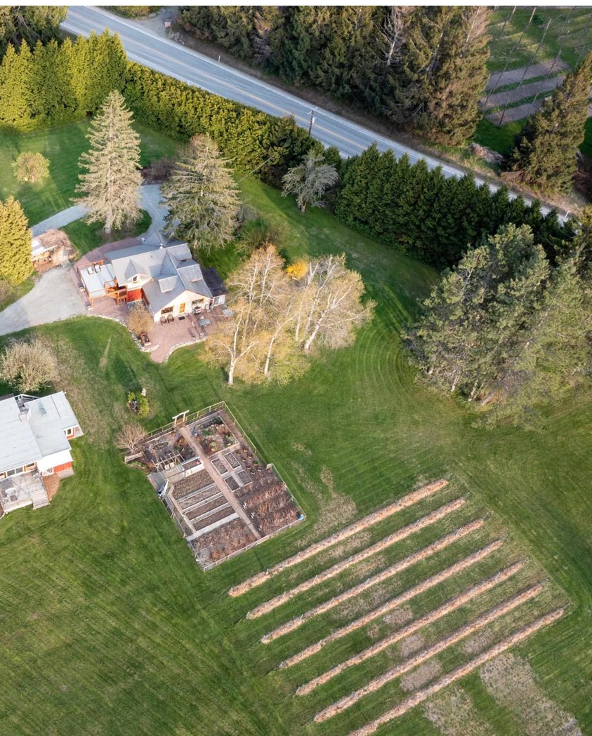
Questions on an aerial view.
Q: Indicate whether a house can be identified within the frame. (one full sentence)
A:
Yes, the photo shows a house.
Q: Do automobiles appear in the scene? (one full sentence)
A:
No, no automobile is visible in the view.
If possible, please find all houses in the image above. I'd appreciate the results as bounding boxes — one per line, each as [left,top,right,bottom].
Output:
[0,392,86,518]
[78,231,227,320]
